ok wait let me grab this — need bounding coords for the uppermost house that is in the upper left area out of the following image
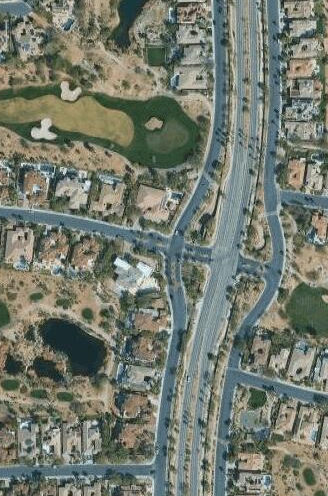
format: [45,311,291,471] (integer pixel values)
[48,0,77,25]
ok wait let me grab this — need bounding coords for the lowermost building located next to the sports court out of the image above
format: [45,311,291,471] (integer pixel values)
[172,67,207,89]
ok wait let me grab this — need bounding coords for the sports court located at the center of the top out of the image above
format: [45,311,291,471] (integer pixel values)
[146,46,167,66]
